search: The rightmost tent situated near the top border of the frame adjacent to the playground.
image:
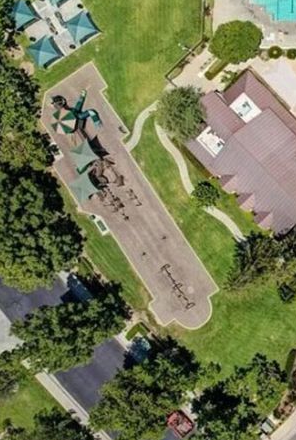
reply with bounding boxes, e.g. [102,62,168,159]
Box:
[65,11,107,45]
